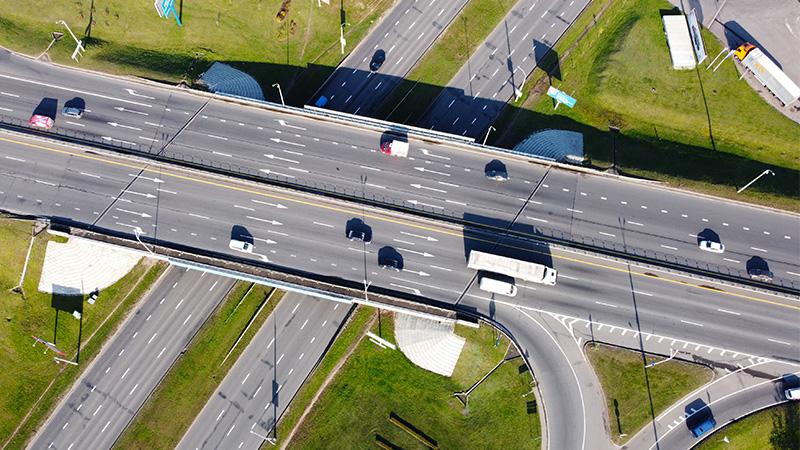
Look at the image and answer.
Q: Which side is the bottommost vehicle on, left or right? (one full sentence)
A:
The bottommost vehicle appears in the right half of the scene.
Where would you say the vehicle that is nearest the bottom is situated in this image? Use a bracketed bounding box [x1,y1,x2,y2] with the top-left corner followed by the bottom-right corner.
[687,413,715,433]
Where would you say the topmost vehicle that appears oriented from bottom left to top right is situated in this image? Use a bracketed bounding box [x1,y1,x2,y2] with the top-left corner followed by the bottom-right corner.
[369,51,387,70]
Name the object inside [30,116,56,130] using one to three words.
vehicle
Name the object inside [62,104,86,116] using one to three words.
vehicle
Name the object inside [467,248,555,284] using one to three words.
truck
